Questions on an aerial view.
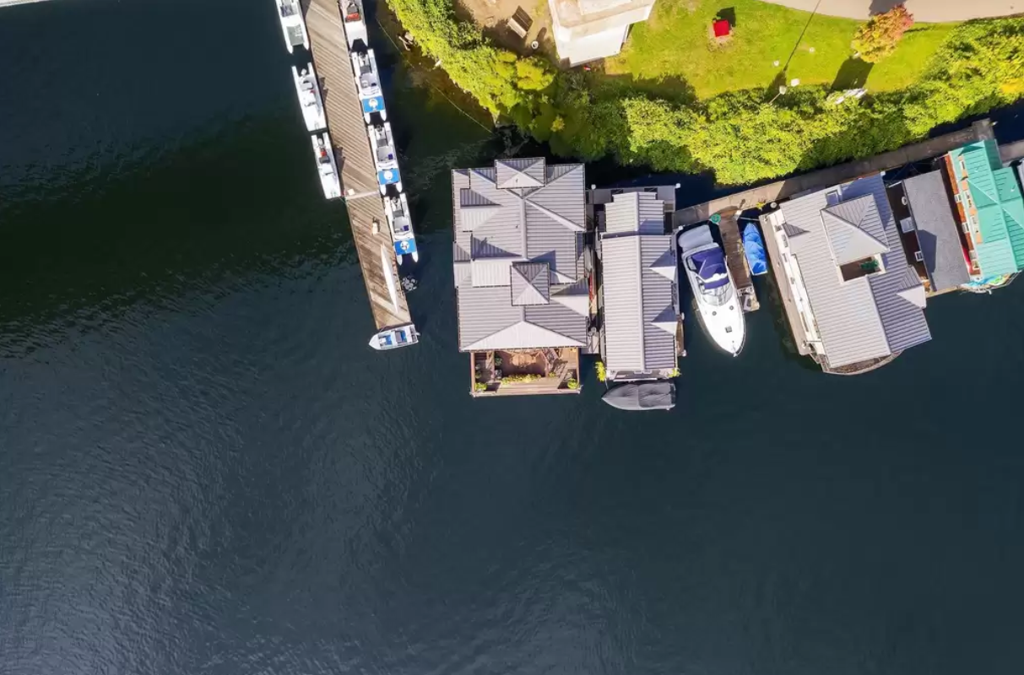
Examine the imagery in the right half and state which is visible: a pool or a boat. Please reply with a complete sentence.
What appears in the right half is a boat.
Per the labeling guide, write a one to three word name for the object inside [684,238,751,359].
boat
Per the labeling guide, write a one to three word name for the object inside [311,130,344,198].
boat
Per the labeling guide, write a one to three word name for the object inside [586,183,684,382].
house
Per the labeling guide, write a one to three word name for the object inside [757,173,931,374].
house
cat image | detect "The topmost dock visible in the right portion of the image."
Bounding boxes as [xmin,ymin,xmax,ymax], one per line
[718,213,759,310]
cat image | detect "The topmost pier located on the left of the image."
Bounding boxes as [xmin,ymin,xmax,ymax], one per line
[298,0,414,332]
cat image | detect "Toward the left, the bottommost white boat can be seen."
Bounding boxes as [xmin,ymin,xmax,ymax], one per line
[368,325,421,348]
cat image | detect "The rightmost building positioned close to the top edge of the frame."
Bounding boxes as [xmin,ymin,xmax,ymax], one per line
[547,0,665,68]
